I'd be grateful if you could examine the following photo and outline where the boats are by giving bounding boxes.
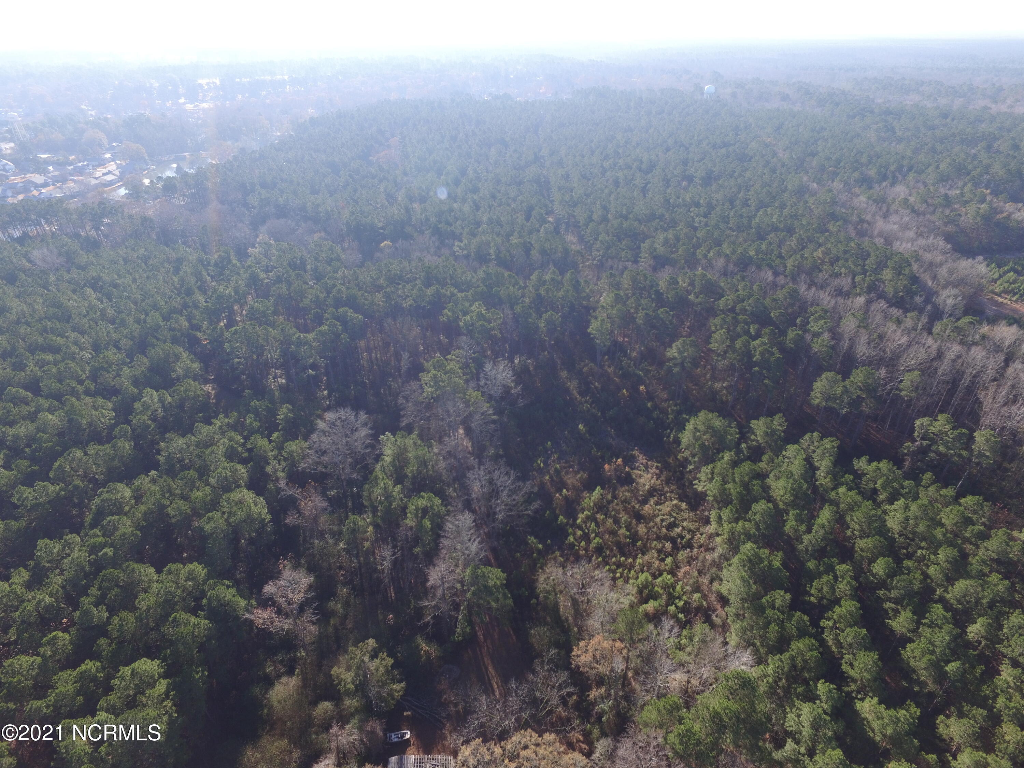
[386,730,411,742]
